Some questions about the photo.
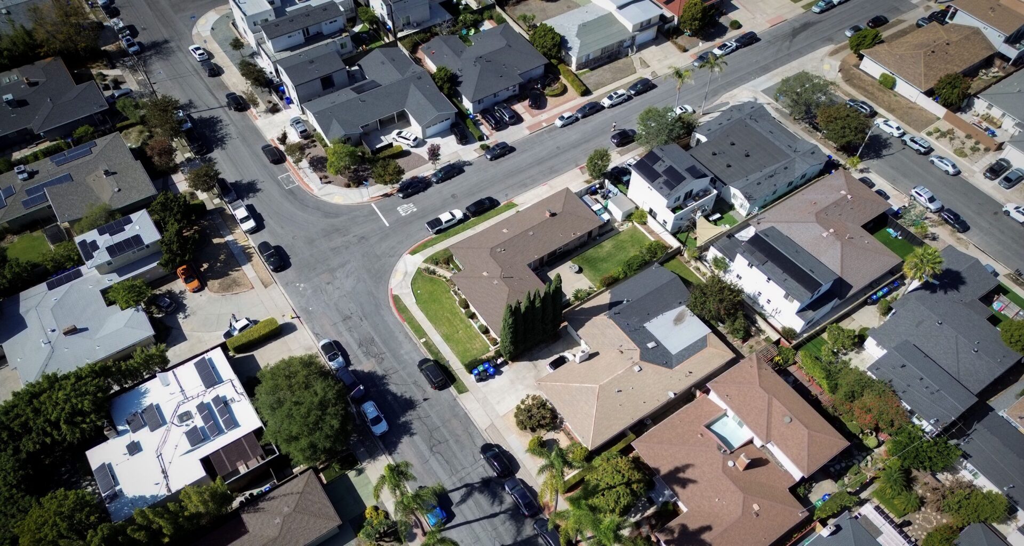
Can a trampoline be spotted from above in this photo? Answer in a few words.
Yes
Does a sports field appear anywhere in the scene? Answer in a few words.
No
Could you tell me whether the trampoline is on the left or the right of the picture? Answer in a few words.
left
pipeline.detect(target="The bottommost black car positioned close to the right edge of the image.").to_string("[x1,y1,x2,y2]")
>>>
[933,206,974,236]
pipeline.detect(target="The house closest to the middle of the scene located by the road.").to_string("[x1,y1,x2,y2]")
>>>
[449,187,604,337]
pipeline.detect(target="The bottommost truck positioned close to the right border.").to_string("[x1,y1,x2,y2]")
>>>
[975,255,1014,289]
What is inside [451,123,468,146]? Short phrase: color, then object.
black car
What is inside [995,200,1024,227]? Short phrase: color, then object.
white car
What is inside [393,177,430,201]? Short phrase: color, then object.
black car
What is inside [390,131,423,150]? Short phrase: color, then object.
white car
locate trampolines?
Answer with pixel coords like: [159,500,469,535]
[34,217,72,246]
